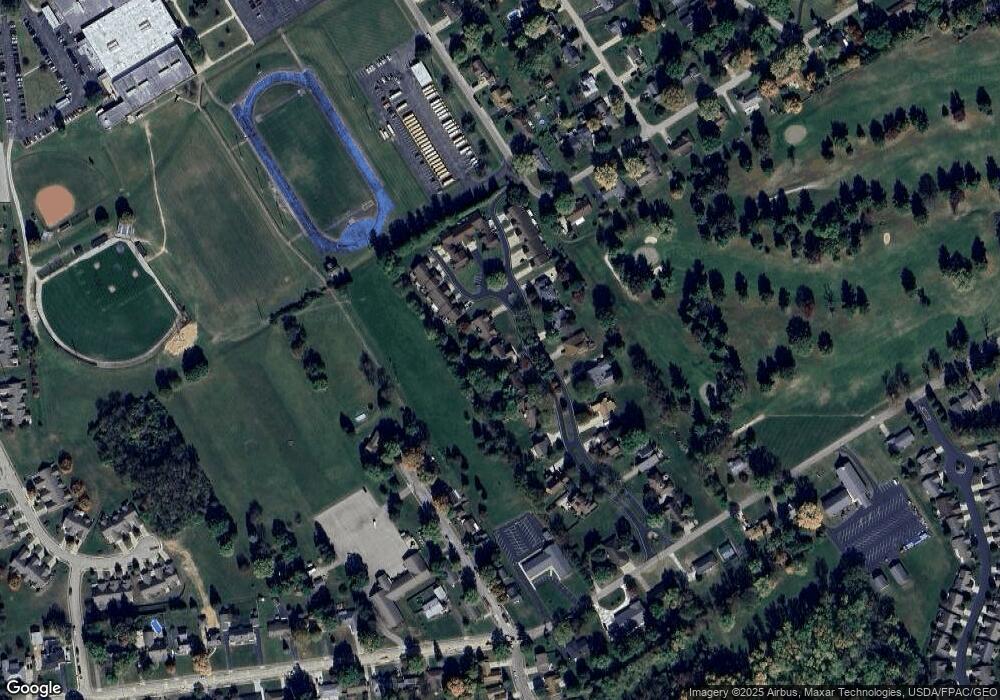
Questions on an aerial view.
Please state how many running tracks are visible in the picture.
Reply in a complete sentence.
Altogether the scene contains 1 running track.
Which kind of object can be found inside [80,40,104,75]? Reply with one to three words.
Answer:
building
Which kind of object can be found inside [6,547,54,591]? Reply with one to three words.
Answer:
house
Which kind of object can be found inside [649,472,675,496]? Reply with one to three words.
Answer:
house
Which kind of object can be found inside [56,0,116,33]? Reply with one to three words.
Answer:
building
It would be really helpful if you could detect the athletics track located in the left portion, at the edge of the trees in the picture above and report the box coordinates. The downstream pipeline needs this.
[229,66,396,257]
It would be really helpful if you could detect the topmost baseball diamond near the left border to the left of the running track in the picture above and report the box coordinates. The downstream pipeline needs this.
[14,152,114,230]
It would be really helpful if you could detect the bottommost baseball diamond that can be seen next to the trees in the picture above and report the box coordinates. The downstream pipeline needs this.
[37,238,184,367]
